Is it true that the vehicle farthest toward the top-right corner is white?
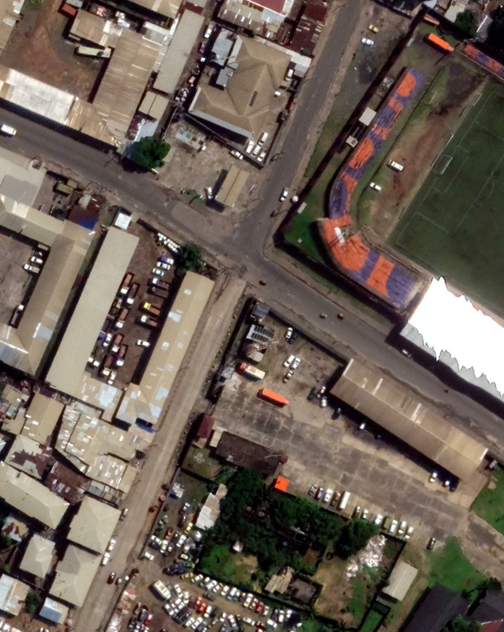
No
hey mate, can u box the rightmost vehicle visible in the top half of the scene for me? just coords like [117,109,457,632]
[429,32,455,52]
